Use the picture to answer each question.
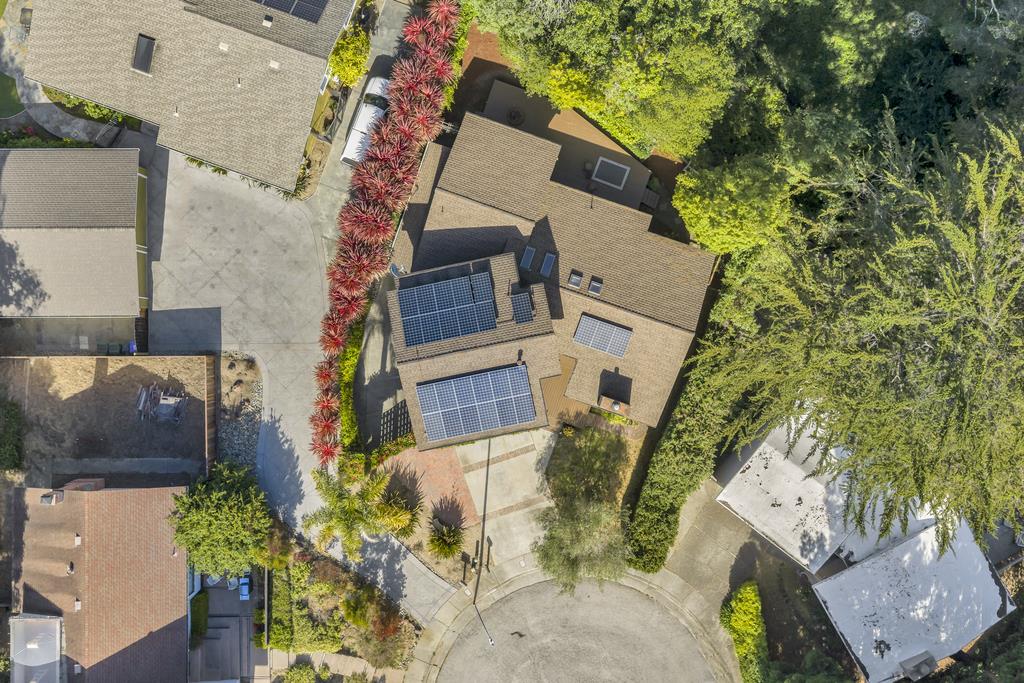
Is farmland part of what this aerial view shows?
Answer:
No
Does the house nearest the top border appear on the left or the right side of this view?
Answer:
left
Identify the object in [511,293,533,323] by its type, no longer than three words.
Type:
solar panel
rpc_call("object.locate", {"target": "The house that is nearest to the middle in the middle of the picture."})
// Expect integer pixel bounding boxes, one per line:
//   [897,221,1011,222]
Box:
[383,112,716,453]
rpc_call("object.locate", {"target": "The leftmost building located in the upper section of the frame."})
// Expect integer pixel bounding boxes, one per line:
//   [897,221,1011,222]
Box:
[0,147,149,320]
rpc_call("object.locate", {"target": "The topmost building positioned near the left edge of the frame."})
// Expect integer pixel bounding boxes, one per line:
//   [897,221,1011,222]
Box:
[24,0,363,194]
